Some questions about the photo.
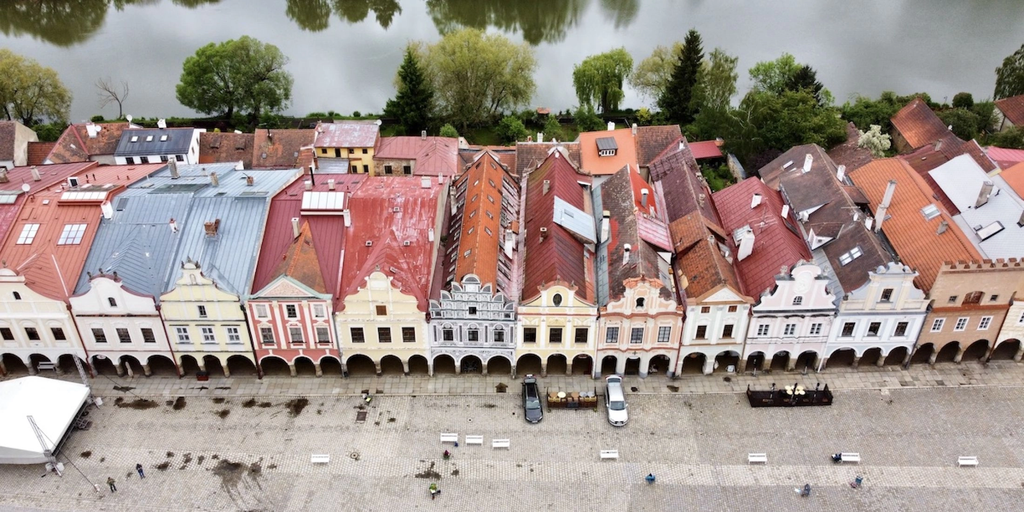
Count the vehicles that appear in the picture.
2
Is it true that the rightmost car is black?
No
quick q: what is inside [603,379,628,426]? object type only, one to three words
car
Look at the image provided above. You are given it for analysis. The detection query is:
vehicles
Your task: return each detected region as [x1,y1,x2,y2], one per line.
[522,376,546,423]
[603,379,628,426]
